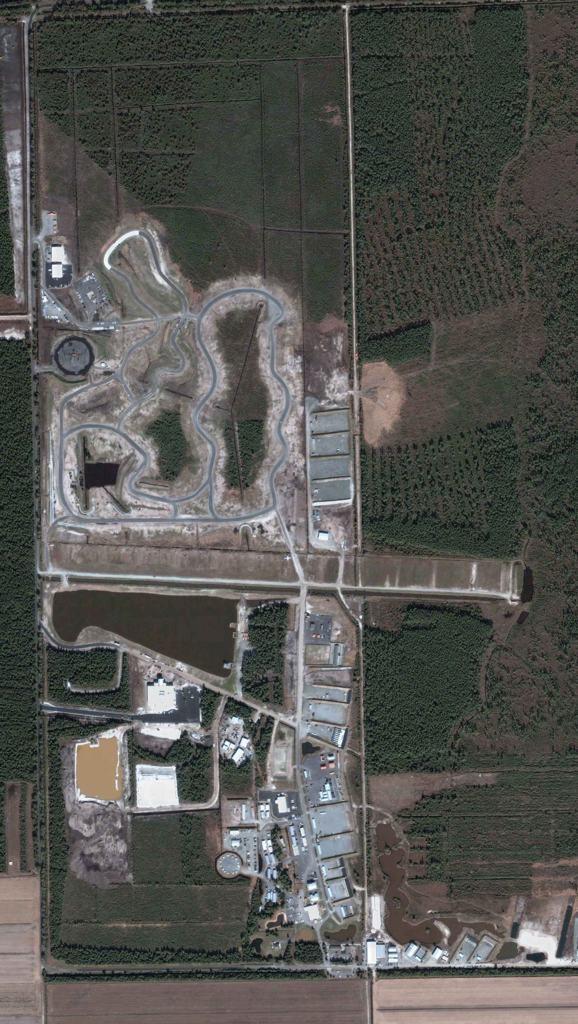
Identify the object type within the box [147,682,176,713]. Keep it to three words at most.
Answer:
building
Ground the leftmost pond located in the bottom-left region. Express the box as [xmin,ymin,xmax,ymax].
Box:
[75,736,123,801]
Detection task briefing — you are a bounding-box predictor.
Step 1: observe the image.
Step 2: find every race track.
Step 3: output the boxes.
[44,230,290,570]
